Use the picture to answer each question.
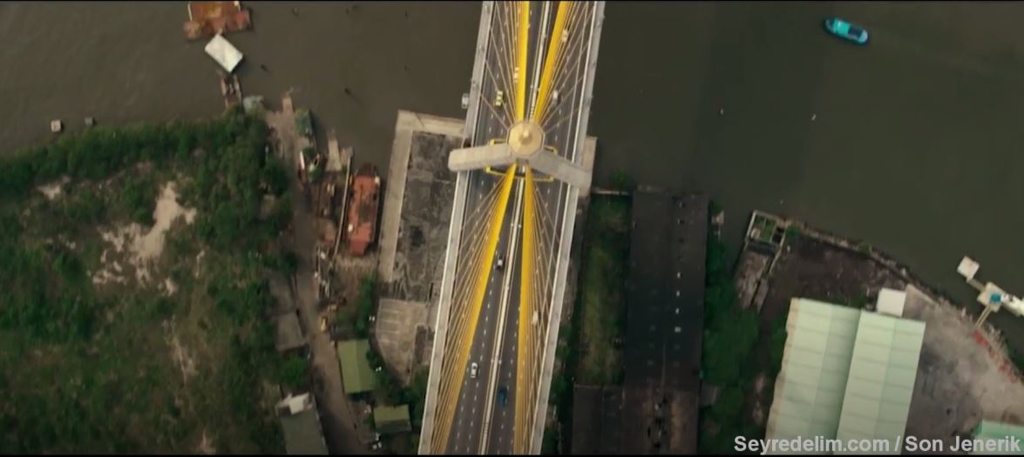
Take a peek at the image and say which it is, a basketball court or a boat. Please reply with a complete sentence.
The one in the frame is a boat.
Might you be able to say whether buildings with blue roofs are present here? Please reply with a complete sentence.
No, no building with a blue roof is visible in the view.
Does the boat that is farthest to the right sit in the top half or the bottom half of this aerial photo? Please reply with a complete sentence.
The boat that is farthest to the right is in the bottom half of the image.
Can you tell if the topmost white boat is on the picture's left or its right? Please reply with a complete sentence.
The topmost white boat is on the left side of the image.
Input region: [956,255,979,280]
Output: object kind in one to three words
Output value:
pier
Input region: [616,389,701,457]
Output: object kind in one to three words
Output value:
building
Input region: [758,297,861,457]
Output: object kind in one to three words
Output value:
shed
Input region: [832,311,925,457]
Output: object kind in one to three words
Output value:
shed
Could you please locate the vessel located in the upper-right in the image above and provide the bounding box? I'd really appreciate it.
[825,17,870,45]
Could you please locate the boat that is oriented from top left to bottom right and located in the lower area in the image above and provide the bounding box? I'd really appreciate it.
[999,293,1024,315]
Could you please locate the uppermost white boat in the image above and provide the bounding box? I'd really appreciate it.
[206,36,244,71]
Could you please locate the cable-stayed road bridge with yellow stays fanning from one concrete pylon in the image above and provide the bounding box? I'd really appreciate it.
[418,0,605,457]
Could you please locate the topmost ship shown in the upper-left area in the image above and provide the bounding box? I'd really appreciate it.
[186,0,255,40]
